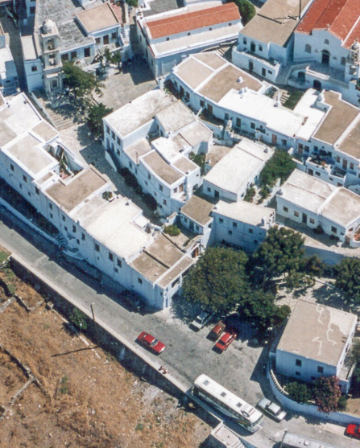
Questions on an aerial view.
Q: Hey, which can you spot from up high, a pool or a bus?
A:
bus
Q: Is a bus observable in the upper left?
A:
No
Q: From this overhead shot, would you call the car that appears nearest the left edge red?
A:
Yes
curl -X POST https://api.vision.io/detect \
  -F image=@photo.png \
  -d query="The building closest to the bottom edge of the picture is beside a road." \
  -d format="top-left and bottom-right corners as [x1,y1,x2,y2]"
[212,421,240,447]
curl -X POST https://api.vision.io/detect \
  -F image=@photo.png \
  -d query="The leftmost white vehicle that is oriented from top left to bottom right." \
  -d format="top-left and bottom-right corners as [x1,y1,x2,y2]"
[192,373,268,435]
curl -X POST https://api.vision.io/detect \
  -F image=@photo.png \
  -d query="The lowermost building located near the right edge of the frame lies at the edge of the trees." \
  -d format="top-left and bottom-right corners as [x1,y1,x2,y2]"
[276,299,358,383]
